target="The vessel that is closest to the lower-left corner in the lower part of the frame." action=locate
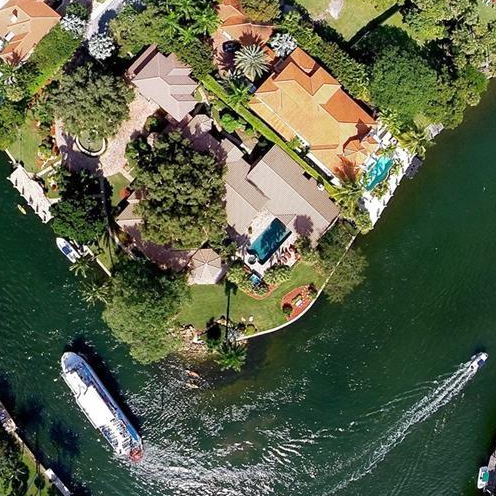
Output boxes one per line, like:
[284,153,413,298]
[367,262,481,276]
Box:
[64,355,145,462]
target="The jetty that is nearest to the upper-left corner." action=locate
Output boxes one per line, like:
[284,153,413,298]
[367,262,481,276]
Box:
[8,164,54,223]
